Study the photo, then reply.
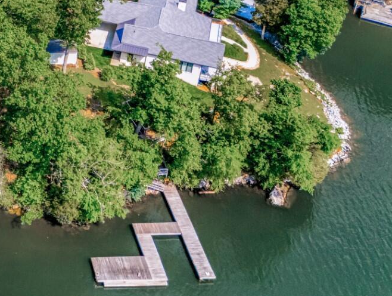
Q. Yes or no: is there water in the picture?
Yes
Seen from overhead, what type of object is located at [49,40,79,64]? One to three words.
shed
